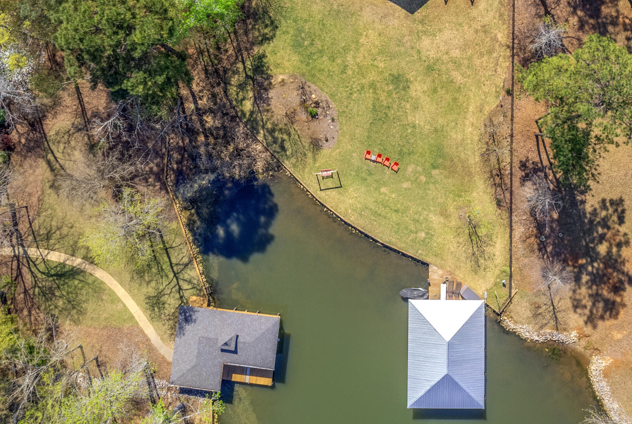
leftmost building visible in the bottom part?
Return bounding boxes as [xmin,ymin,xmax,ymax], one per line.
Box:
[169,296,282,392]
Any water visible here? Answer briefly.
Yes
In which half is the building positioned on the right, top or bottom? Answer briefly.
bottom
